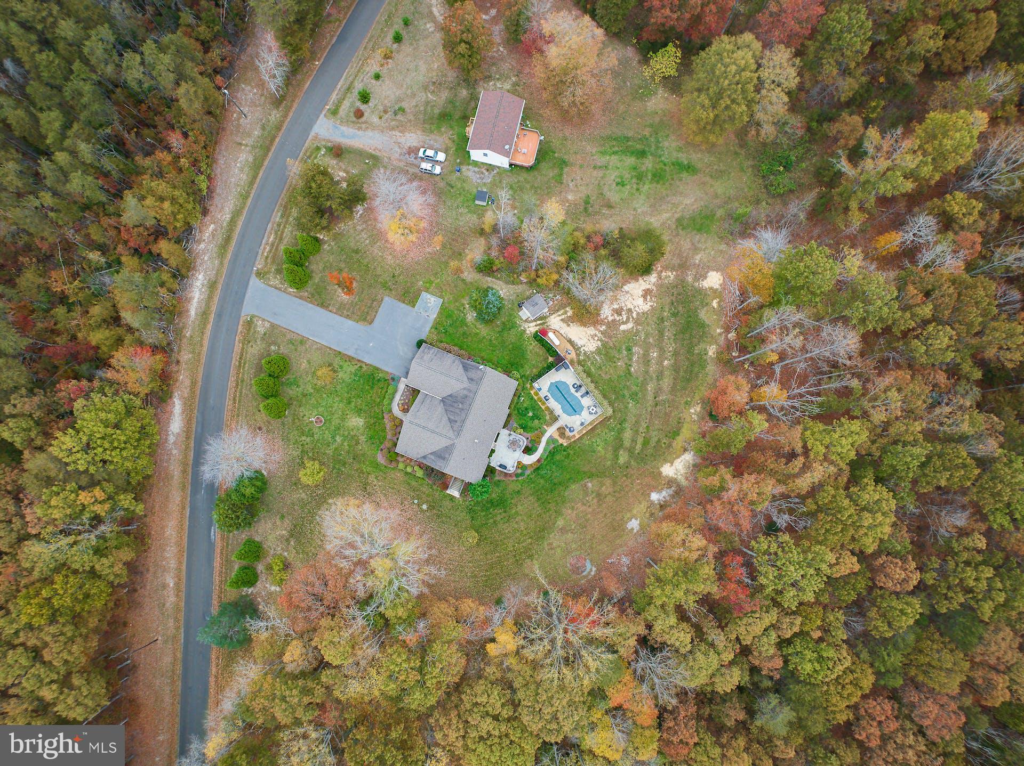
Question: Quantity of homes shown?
2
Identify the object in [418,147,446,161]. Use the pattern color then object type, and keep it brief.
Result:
white car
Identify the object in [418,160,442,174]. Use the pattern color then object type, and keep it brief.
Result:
white car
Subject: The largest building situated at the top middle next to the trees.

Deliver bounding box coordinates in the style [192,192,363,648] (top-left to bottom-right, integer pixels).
[466,88,526,168]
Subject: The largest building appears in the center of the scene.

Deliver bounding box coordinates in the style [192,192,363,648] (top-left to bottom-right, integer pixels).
[395,343,519,482]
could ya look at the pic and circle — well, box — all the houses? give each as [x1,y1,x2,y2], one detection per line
[395,343,519,482]
[466,88,526,168]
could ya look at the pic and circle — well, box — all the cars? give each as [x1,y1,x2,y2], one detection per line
[418,160,442,174]
[418,147,446,161]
